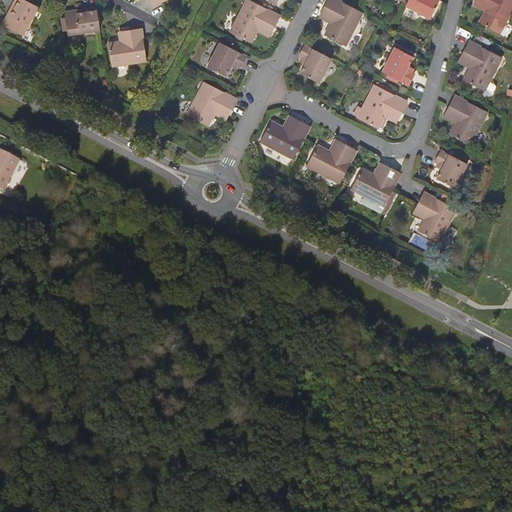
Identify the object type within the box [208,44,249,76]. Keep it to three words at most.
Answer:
house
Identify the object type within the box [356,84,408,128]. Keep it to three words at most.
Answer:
house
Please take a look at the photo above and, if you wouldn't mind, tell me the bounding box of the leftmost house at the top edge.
[4,0,41,34]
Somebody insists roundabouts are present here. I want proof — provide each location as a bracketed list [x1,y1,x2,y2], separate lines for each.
[192,172,232,212]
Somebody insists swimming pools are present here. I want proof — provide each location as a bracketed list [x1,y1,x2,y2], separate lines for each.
[409,232,430,250]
